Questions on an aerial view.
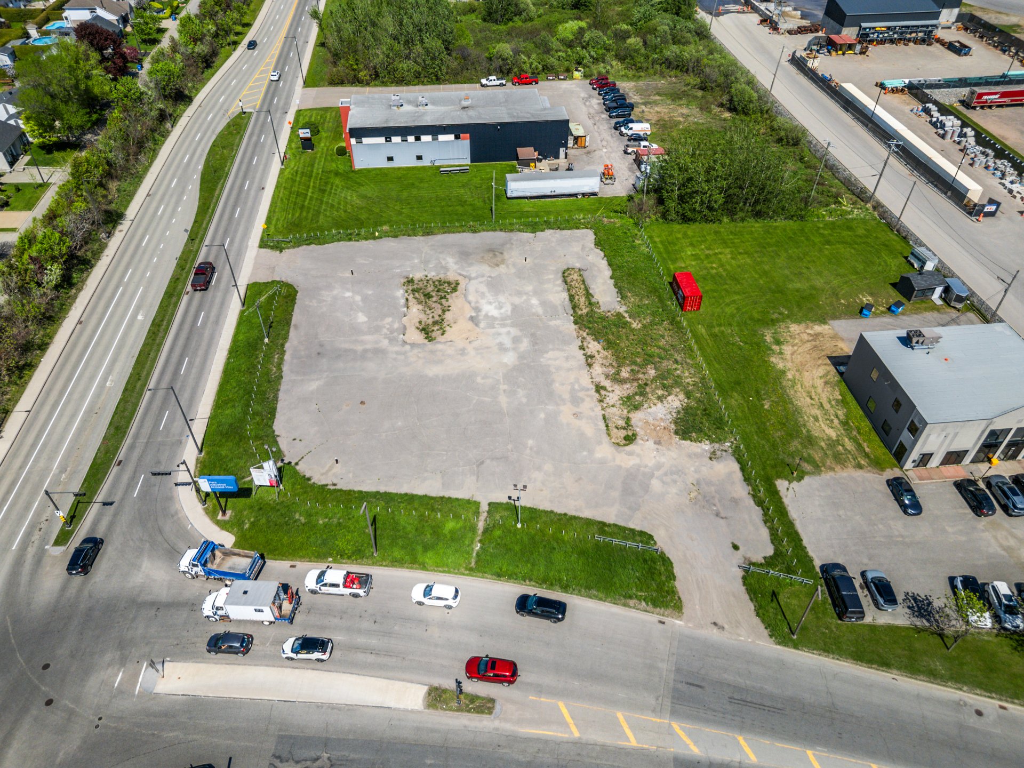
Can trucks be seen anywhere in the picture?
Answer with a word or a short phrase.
Yes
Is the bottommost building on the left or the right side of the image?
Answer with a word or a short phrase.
right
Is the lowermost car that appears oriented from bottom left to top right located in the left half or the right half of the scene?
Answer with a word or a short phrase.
left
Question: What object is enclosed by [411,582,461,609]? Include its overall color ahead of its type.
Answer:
white car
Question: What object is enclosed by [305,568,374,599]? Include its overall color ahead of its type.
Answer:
white truck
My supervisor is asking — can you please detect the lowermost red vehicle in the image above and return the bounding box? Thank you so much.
[464,656,520,687]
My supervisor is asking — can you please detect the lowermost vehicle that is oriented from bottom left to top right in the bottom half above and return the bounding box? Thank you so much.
[65,535,107,578]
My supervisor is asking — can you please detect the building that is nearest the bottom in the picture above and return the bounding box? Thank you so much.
[841,322,1024,469]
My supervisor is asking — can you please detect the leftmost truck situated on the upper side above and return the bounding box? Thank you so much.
[191,263,214,289]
